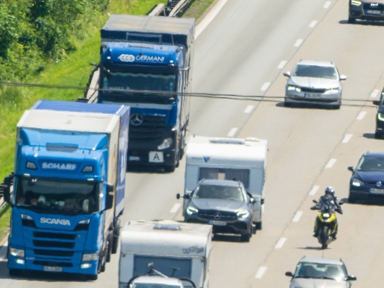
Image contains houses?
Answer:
No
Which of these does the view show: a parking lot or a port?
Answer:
parking lot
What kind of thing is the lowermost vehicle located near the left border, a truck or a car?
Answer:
truck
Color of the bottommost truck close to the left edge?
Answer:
blue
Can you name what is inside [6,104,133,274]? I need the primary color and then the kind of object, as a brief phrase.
blue truck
